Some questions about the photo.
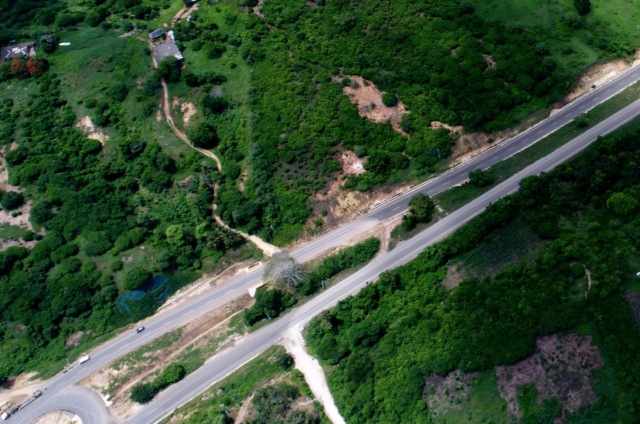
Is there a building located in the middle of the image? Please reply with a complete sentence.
No, I see no building in the middle of the image.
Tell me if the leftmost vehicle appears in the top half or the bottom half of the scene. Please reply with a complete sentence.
The leftmost vehicle is in the bottom half of the image.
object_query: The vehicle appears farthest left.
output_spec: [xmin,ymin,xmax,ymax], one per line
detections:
[1,392,42,421]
